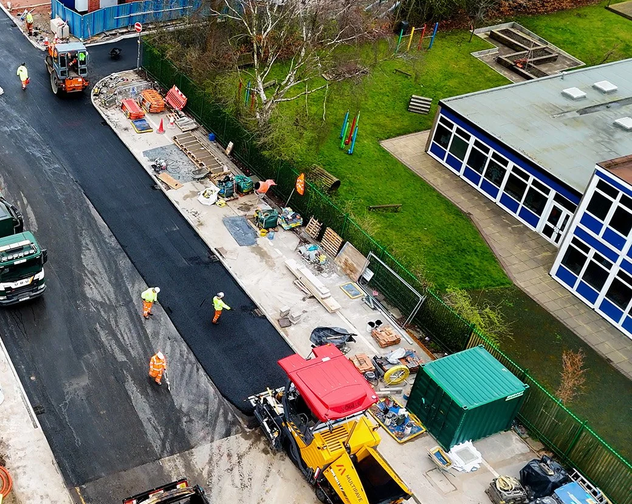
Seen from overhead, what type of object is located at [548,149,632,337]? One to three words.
building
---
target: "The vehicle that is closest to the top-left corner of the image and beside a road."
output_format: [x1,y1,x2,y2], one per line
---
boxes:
[44,40,90,94]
